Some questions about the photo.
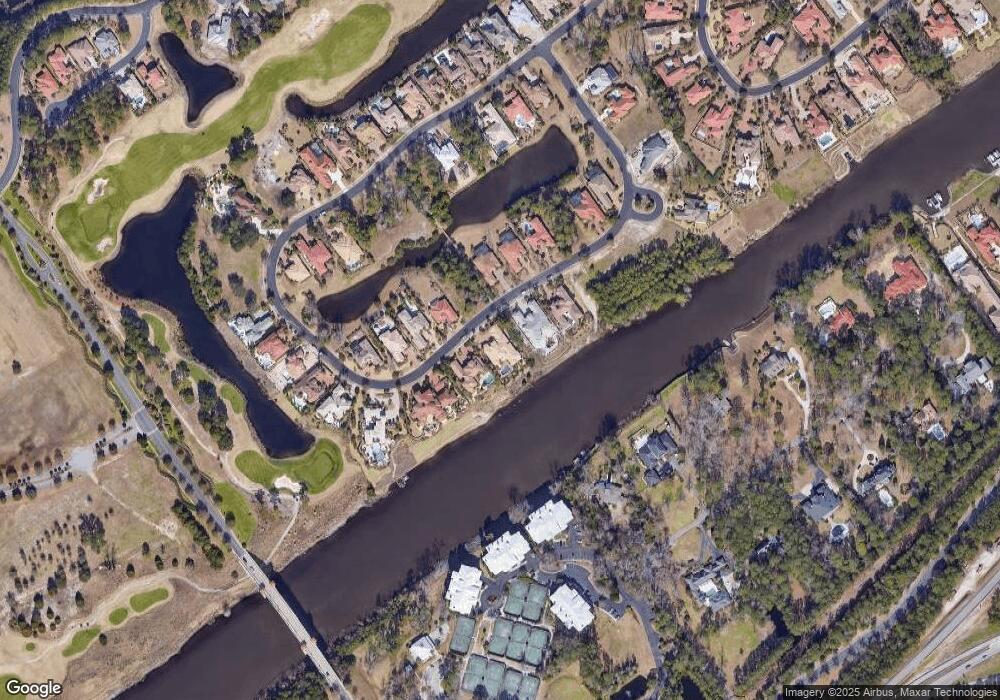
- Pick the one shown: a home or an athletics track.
home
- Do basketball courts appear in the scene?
No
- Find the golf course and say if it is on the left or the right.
left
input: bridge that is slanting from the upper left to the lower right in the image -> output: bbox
[207,504,355,700]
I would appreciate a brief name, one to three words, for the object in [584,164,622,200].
house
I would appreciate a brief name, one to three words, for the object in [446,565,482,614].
building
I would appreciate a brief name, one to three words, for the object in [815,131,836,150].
swimming pool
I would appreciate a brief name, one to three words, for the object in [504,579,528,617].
tennis court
